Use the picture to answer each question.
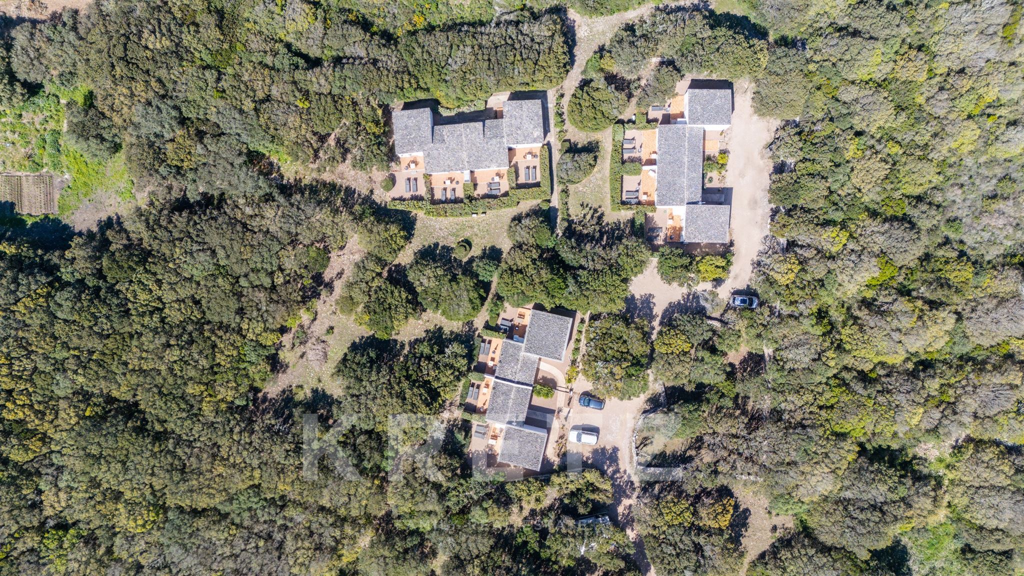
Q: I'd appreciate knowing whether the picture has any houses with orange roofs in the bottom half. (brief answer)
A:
No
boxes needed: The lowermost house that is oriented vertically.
[485,310,573,471]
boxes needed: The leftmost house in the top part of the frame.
[392,100,544,175]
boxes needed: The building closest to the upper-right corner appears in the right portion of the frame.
[653,89,731,244]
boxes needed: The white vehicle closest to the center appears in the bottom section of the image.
[568,430,598,445]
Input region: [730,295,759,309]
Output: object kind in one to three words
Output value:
car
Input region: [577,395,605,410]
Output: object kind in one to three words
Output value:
car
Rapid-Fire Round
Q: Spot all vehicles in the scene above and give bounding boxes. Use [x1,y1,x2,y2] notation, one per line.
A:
[730,295,759,309]
[577,395,605,410]
[568,430,598,445]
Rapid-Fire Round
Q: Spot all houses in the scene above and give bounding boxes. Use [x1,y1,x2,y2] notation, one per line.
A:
[485,310,573,471]
[653,89,731,244]
[392,100,544,175]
